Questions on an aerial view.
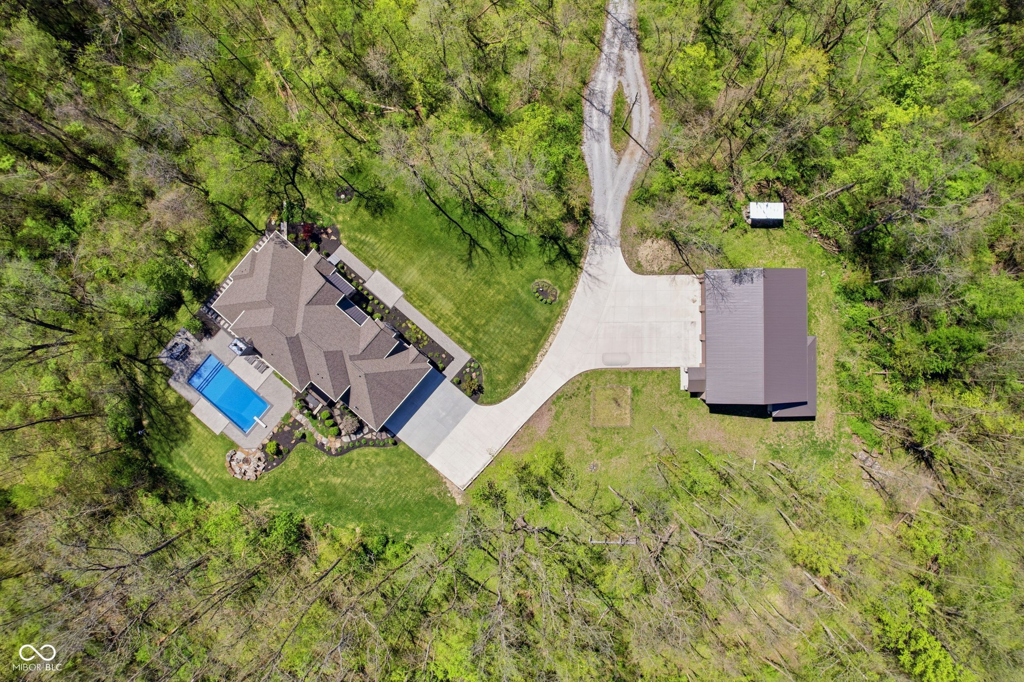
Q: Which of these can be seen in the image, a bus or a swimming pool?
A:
swimming pool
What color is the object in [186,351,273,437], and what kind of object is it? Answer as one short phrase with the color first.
blue swimming pool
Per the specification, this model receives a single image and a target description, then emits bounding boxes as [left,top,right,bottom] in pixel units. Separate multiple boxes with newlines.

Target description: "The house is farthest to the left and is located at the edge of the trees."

[210,230,433,432]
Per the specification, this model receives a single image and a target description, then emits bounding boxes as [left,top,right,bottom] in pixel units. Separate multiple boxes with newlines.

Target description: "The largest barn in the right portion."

[681,268,816,417]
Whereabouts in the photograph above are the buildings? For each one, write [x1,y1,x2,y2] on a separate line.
[210,230,433,432]
[743,203,784,221]
[681,268,816,417]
